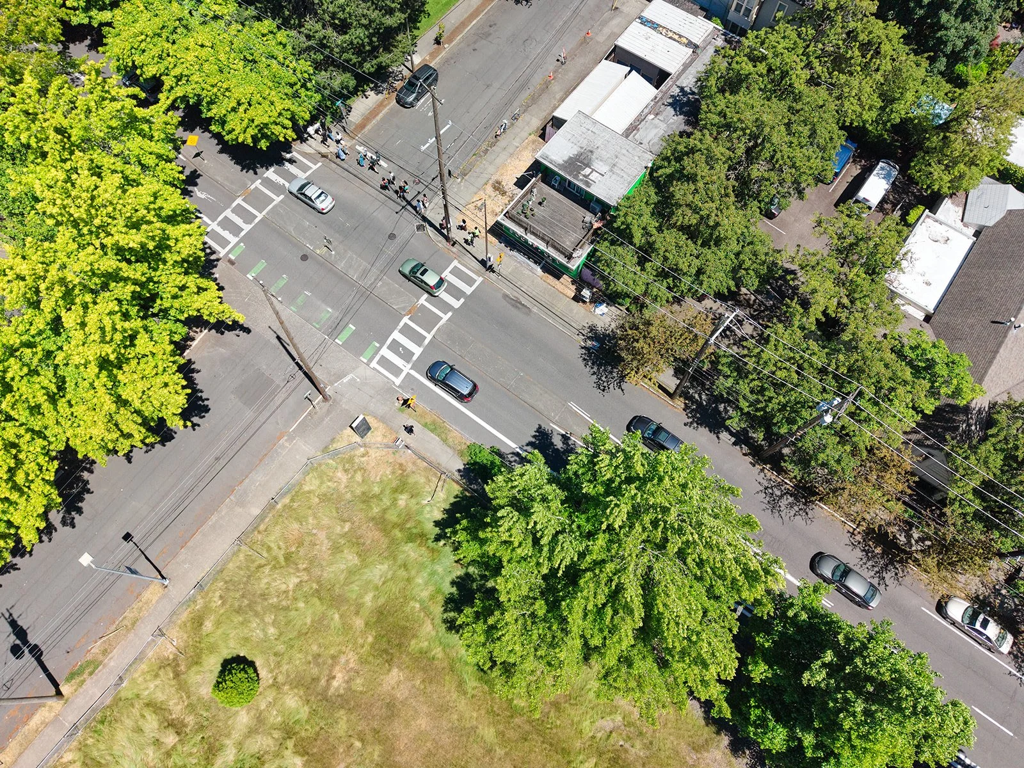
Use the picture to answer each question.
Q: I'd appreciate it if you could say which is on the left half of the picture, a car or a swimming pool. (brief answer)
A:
car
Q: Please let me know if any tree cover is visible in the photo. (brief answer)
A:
Yes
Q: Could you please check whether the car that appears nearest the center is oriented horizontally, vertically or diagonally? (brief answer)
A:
diagonally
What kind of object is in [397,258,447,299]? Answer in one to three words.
car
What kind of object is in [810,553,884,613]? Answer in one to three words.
car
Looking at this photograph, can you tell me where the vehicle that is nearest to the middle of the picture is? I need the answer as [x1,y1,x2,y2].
[423,358,481,407]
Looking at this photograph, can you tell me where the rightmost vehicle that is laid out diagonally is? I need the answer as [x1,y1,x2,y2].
[939,597,1018,658]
